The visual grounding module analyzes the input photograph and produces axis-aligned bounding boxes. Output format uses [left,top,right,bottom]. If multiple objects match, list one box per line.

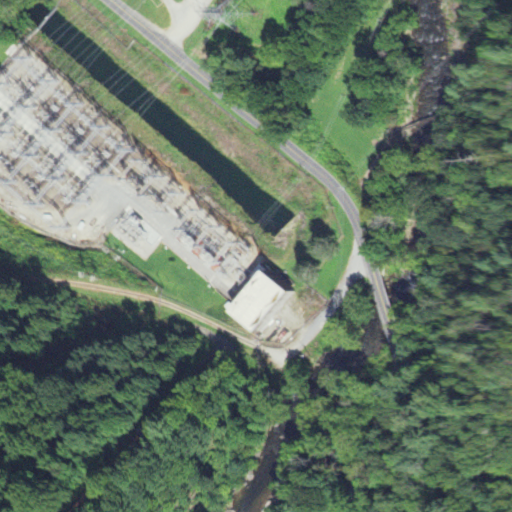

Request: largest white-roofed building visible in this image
[224,269,294,330]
